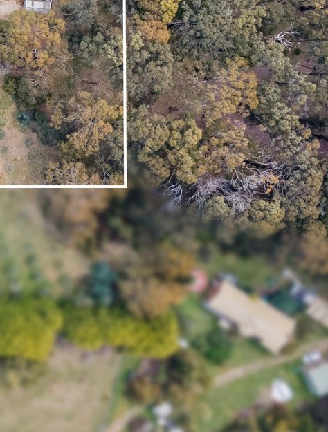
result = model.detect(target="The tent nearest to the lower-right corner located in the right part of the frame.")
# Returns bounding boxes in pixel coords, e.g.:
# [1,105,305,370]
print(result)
[271,380,291,402]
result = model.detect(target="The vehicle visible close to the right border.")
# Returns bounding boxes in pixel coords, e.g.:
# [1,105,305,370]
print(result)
[300,350,320,363]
